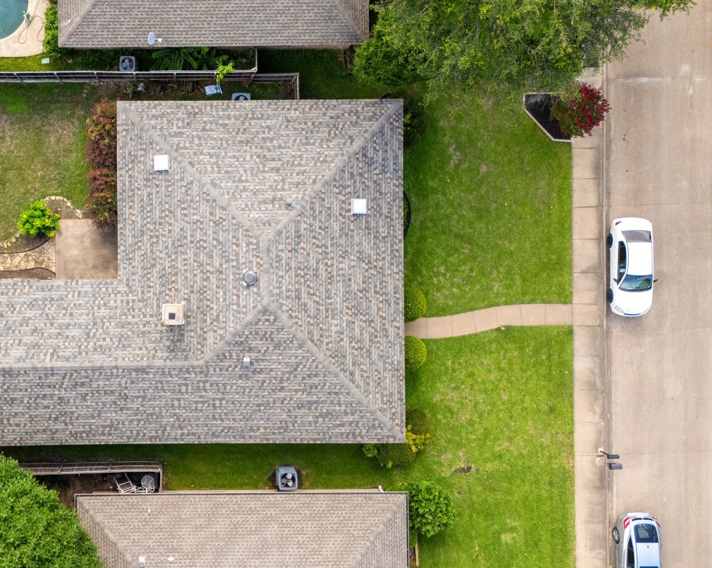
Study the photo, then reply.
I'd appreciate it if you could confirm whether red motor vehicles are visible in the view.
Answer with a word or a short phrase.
No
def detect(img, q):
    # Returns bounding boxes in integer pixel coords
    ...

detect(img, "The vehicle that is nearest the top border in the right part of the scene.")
[606,219,661,317]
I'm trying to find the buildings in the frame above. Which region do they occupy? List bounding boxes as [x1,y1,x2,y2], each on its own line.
[72,484,411,568]
[0,99,406,447]
[57,0,370,56]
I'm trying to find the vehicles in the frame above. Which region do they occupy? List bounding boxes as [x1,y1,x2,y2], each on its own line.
[610,509,662,568]
[606,219,661,317]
